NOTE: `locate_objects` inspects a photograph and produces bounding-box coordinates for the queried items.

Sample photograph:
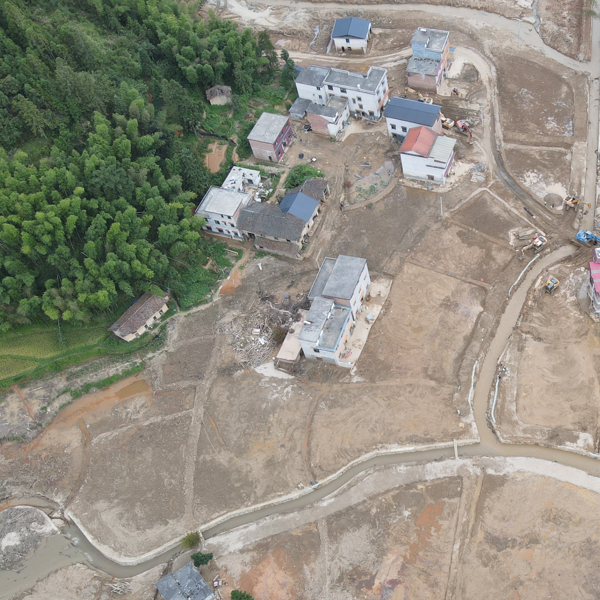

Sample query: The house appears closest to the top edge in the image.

[331,16,372,54]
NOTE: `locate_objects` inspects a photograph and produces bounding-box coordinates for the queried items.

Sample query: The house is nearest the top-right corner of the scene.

[406,26,454,93]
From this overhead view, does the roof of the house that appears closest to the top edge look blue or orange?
blue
